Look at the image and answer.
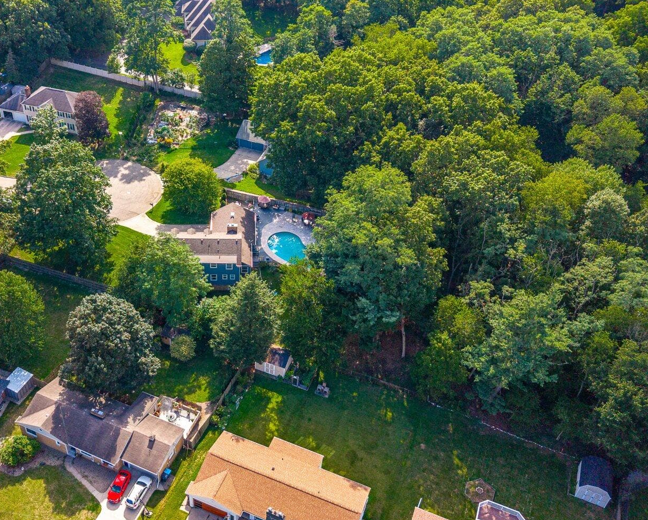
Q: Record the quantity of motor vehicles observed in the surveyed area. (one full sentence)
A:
The count of motor vehicles comes to 2.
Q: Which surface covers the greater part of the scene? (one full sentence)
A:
For the most part, this view shows trees.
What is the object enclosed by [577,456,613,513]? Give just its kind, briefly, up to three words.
shed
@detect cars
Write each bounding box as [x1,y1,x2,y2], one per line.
[124,473,157,512]
[106,467,138,506]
